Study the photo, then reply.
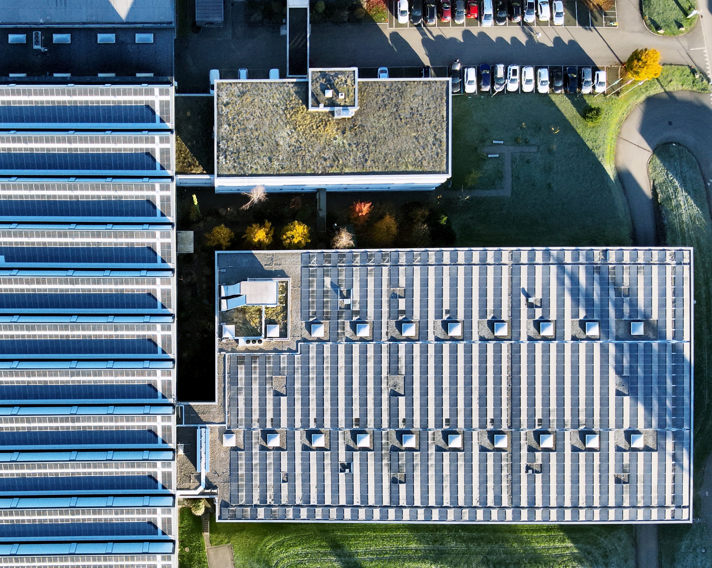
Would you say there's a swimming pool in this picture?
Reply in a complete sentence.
No, I can see no swimming pool in this picture.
